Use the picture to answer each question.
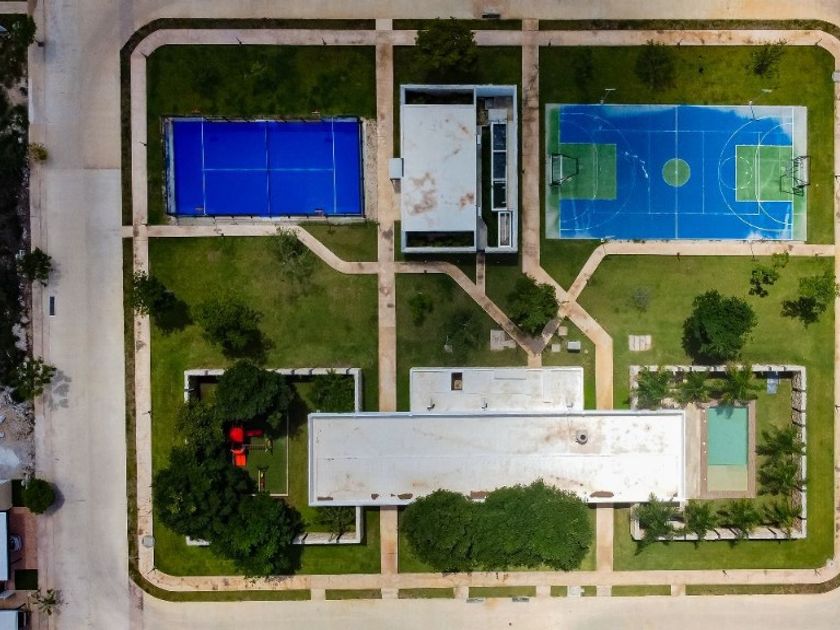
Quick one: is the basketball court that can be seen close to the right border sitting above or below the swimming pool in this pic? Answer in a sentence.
Relative to the swimming pool, the basketball court that can be seen close to the right border lies above it.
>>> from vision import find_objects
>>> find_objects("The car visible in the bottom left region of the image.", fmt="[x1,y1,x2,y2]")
[7,532,26,550]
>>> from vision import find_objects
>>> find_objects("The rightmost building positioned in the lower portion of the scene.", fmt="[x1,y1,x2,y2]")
[308,367,685,505]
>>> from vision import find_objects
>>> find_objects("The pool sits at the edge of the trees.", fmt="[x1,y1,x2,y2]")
[684,402,756,499]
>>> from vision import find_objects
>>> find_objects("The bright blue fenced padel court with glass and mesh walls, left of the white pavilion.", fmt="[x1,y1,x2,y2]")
[164,115,365,223]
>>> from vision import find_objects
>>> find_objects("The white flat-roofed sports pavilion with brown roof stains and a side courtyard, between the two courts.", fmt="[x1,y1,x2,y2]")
[390,85,517,254]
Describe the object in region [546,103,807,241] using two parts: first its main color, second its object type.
blue basketball court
